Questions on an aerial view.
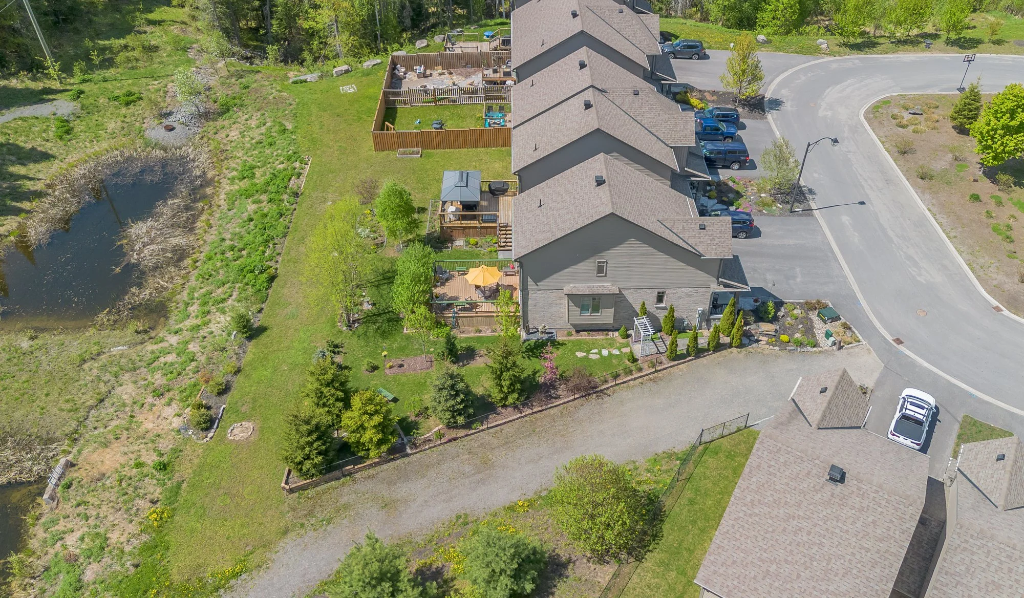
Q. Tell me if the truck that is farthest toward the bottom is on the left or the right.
right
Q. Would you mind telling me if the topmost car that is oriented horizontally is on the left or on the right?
right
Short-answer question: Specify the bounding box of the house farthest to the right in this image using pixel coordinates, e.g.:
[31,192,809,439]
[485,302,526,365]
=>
[886,436,1024,598]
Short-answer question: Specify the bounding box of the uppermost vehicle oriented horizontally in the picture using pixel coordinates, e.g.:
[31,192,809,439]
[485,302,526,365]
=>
[661,40,704,60]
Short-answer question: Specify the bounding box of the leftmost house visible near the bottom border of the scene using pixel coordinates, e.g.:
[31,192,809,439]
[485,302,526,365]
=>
[690,367,931,598]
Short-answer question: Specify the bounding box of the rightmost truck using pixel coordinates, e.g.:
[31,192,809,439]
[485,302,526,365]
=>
[892,380,944,451]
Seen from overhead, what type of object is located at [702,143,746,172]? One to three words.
truck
